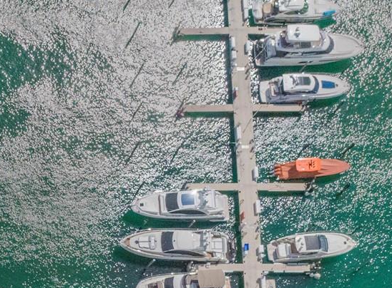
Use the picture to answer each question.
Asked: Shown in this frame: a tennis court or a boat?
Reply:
boat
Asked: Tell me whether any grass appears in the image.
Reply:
No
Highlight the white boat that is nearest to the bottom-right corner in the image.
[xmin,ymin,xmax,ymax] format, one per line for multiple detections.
[255,234,362,266]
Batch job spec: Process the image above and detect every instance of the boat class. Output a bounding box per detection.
[271,160,351,183]
[255,234,362,266]
[243,0,343,29]
[250,75,355,106]
[117,230,245,265]
[137,275,242,288]
[247,29,370,71]
[128,193,241,225]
